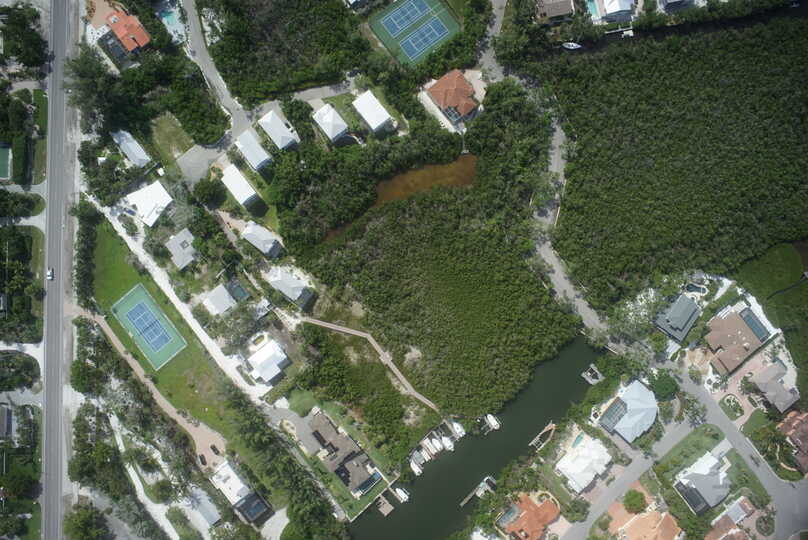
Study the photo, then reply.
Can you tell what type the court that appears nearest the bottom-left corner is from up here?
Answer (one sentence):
It turns out the court that appears nearest the bottom-left corner is a tennis court.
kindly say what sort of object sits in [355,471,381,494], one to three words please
swimming pool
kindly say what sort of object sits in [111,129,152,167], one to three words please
house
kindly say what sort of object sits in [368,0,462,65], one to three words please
tennis court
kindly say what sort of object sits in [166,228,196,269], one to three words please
house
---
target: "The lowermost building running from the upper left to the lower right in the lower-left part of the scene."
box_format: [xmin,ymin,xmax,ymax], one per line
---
[189,485,221,526]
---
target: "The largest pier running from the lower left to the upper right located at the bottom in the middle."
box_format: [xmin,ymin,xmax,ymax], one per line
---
[410,419,459,471]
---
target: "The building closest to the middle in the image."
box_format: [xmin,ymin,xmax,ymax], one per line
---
[261,264,307,302]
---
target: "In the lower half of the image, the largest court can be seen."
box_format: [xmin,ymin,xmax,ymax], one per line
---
[111,282,188,373]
